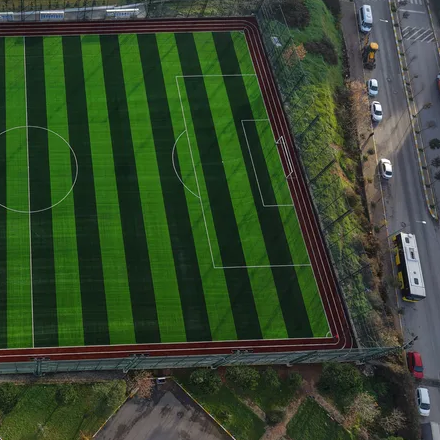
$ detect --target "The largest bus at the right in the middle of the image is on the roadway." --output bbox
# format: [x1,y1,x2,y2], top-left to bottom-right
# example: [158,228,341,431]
[390,226,435,296]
